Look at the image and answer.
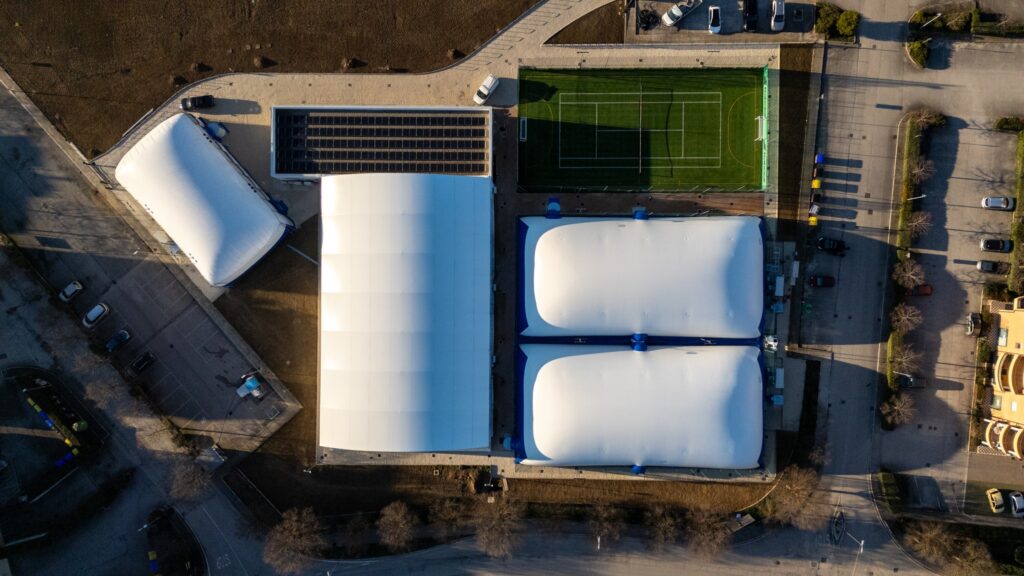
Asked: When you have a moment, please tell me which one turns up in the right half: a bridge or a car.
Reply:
car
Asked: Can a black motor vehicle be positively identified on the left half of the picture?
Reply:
Yes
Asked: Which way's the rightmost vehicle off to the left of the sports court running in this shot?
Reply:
on a diagonal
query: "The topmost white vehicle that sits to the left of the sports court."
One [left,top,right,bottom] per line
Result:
[473,74,500,105]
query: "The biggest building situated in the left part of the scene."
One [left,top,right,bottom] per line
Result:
[319,173,497,452]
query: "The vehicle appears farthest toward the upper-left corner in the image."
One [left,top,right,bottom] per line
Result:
[181,93,217,112]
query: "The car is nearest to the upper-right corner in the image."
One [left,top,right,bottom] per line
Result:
[980,195,1014,211]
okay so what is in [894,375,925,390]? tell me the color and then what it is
black car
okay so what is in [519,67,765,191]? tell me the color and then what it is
green sports court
